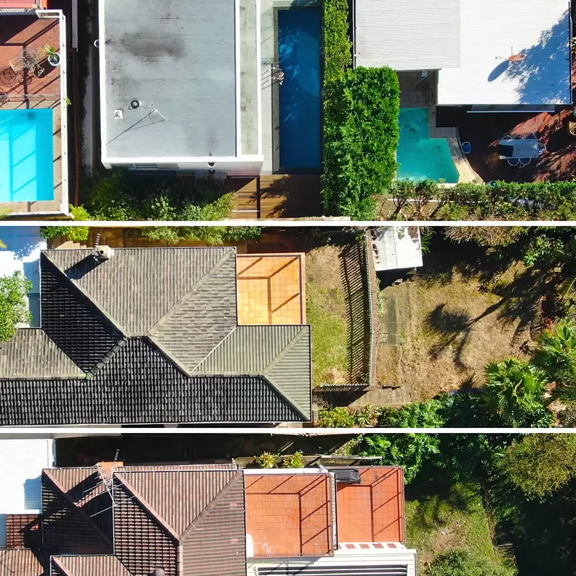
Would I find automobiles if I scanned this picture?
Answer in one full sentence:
No, the photo shows no automobile.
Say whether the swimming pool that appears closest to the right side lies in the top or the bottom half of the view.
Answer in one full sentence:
Seen from above, the swimming pool that appears closest to the right side lies in the top half of the view.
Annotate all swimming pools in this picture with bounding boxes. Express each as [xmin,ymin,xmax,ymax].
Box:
[272,1,324,174]
[393,105,482,185]
[0,102,61,210]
